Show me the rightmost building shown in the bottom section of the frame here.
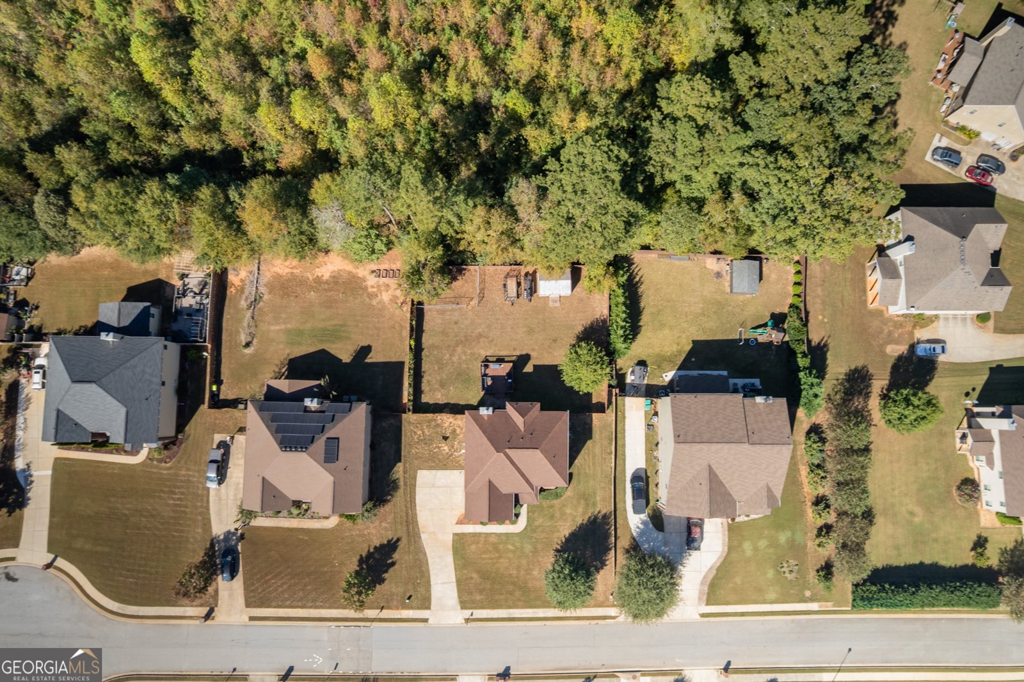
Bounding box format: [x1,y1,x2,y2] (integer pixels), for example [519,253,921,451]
[953,405,1024,517]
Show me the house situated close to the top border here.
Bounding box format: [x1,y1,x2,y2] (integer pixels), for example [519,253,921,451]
[943,13,1024,132]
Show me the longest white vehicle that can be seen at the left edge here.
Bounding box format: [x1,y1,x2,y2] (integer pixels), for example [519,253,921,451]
[31,356,48,388]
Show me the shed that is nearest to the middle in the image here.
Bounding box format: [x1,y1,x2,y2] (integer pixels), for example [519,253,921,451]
[539,267,571,306]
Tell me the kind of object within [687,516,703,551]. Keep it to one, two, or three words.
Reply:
vehicle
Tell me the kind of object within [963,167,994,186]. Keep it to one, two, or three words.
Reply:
car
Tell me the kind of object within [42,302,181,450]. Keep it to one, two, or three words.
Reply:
house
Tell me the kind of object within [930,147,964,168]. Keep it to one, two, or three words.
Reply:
car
